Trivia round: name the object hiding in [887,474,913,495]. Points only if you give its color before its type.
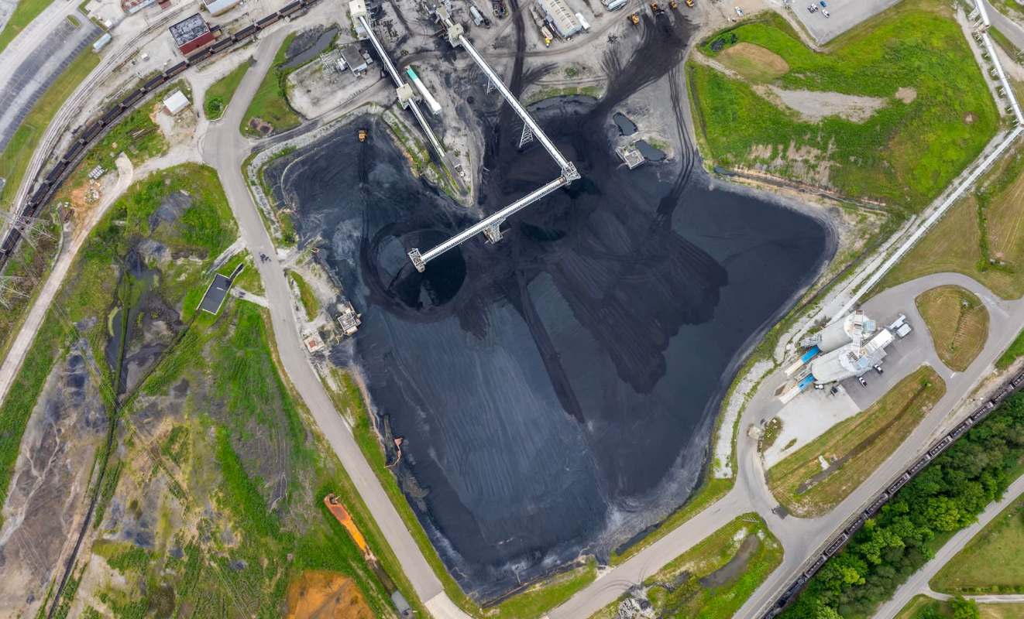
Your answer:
gray rail car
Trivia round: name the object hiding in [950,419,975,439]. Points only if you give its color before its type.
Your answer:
gray rail car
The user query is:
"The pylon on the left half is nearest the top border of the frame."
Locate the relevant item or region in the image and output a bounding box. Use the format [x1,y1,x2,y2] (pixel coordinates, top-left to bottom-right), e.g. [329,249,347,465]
[0,209,53,246]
